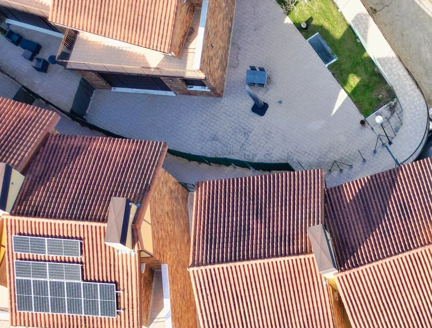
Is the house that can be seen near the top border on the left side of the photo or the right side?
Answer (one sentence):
The house that can be seen near the top border appears in the left half of the scene.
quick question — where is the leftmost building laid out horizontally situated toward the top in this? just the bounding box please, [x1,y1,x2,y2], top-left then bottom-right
[0,0,239,103]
